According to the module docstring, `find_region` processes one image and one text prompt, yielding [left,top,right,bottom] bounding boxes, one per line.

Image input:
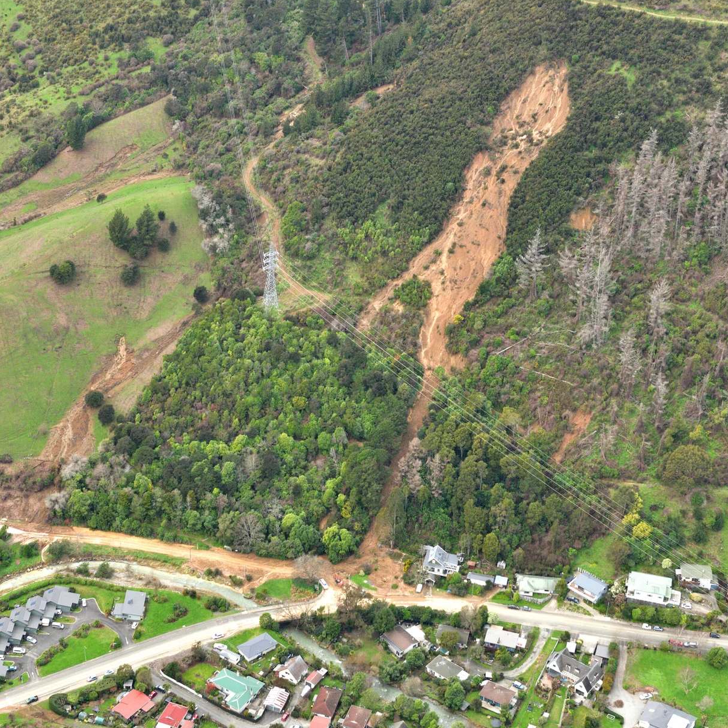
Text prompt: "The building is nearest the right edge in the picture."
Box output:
[680,563,718,593]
